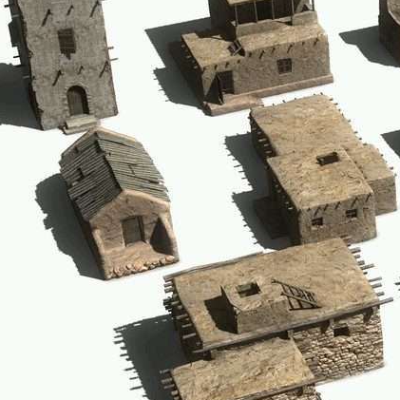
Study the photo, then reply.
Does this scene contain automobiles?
No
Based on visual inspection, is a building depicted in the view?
Yes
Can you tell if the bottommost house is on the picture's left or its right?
right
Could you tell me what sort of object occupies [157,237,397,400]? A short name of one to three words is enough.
house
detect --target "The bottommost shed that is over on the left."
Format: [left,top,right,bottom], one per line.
[60,126,183,279]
